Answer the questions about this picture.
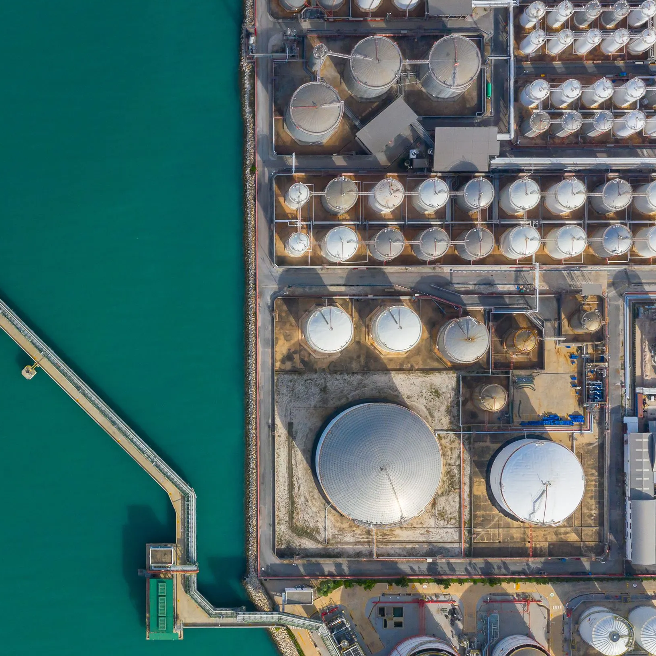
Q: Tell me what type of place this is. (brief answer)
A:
industrial area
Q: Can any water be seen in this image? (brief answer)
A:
Yes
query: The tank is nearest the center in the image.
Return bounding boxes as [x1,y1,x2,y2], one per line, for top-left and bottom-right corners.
[300,301,354,356]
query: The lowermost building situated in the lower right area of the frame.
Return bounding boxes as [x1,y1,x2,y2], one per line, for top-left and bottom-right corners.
[625,498,656,565]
